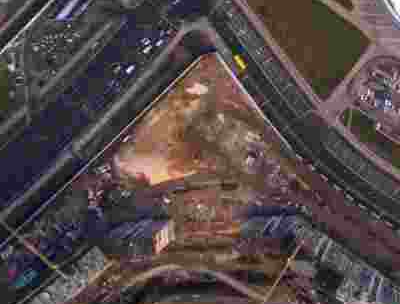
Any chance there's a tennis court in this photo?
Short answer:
No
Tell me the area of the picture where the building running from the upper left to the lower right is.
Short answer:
bottom right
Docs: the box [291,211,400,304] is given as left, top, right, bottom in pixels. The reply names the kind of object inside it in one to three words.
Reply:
building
